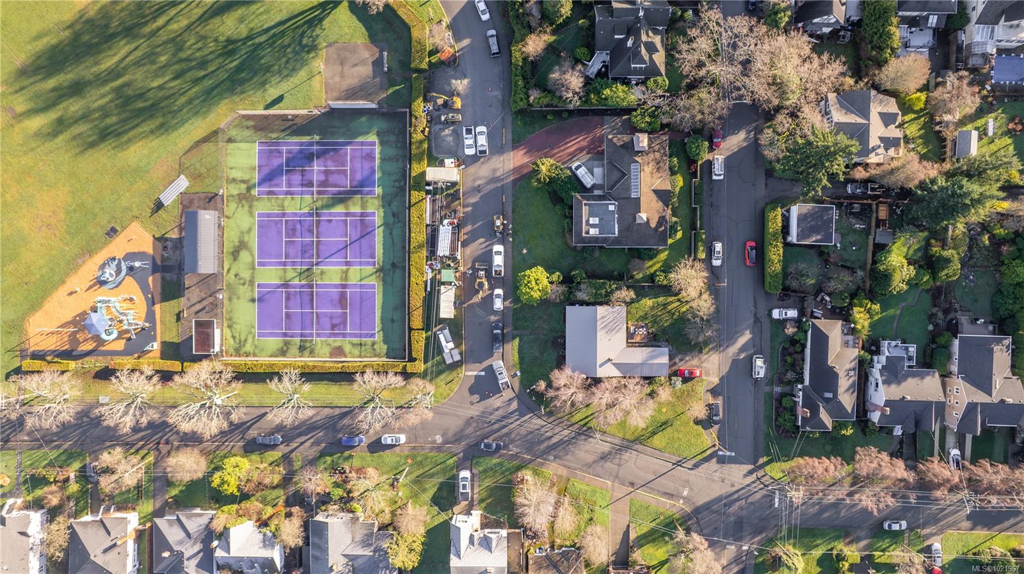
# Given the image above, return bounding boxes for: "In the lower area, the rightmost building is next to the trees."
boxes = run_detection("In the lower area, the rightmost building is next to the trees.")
[940,317,1024,435]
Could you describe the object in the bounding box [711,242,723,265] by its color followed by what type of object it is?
white vehicle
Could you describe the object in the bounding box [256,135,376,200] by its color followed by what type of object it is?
purple tennis court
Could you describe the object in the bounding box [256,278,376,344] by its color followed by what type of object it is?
purple tennis court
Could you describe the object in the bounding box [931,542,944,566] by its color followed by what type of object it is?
white vehicle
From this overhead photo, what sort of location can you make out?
residential area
